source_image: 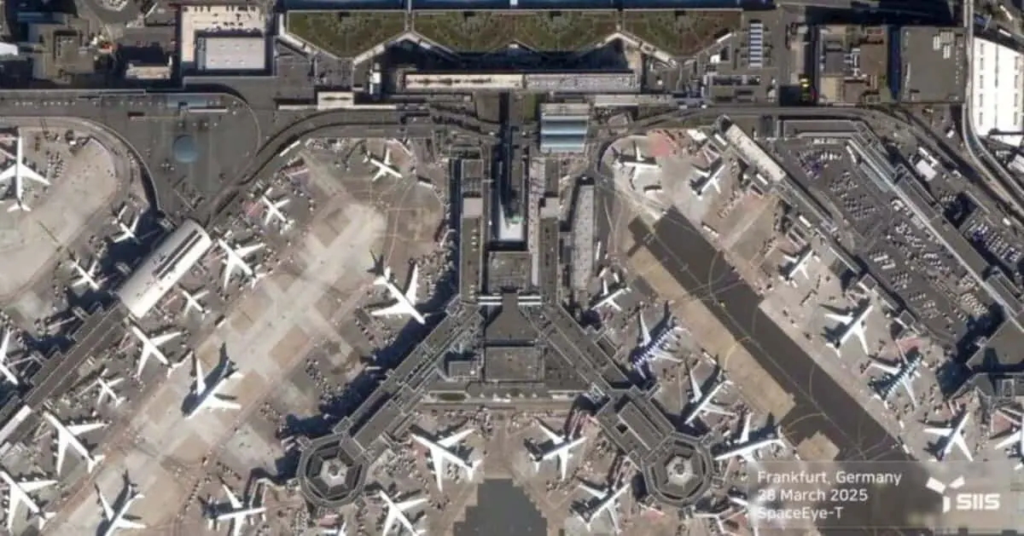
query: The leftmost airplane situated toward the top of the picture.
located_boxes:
[0,135,51,213]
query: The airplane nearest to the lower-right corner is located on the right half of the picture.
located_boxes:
[995,428,1024,468]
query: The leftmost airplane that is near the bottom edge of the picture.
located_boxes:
[0,471,55,528]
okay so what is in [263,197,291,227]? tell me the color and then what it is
white airplane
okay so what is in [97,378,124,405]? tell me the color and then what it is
white airplane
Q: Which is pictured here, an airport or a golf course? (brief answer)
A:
airport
